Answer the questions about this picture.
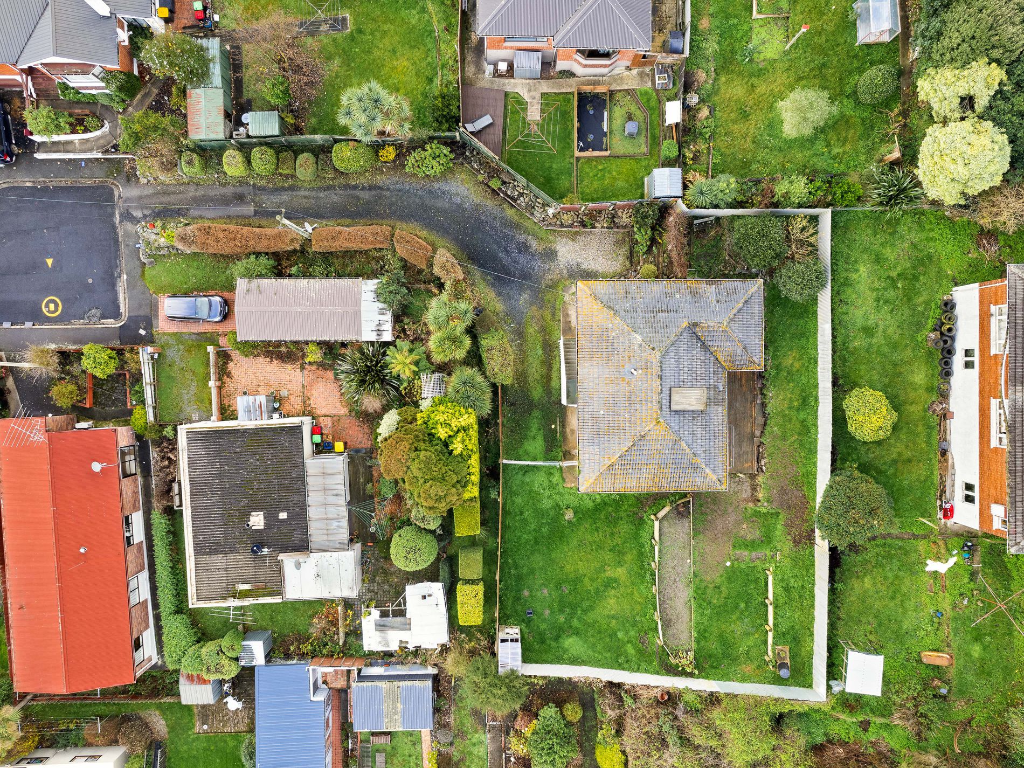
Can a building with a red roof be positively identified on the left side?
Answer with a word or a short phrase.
Yes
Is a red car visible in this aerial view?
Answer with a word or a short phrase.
No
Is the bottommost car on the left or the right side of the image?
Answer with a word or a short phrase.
left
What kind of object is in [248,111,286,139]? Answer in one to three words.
shed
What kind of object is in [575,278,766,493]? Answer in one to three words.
house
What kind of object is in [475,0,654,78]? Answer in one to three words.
house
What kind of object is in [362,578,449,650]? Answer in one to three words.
shed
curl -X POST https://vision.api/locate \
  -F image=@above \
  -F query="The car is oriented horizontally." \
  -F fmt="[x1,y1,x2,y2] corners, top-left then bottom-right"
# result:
[164,292,231,324]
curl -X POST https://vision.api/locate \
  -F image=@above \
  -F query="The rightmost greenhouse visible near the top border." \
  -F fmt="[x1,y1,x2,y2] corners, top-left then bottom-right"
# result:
[845,0,900,55]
